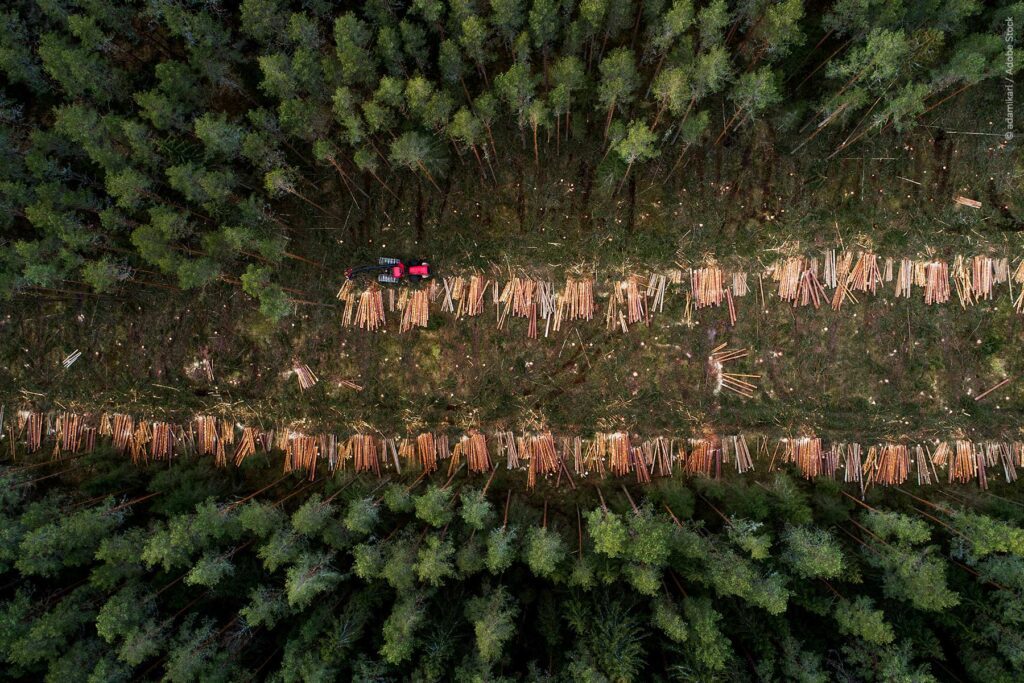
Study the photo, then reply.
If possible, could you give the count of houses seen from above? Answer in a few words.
0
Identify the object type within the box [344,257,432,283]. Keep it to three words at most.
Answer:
work vehicle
